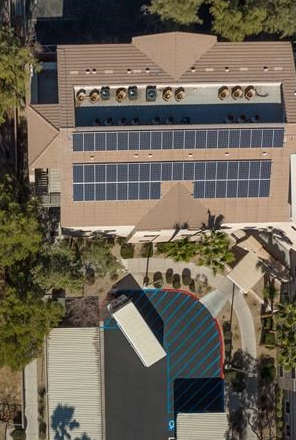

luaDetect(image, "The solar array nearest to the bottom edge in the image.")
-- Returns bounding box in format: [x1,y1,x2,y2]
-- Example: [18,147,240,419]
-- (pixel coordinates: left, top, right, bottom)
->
[73,160,272,201]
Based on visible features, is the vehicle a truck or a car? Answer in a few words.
truck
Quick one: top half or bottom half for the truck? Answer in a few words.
bottom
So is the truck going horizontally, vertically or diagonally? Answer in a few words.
diagonally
